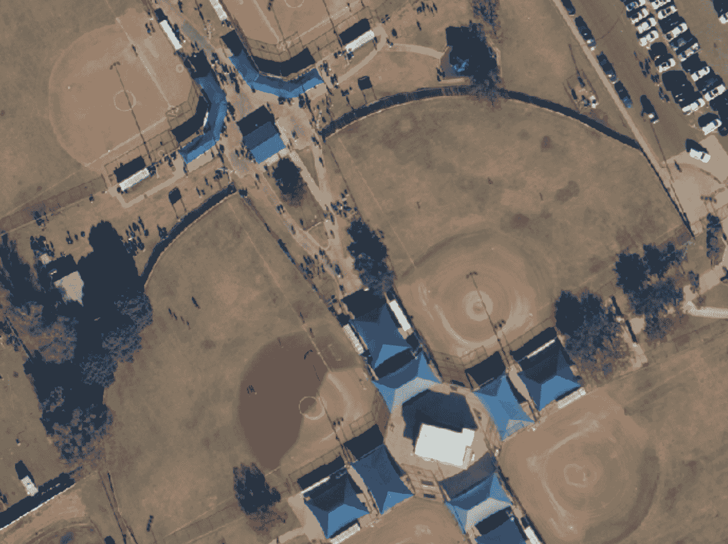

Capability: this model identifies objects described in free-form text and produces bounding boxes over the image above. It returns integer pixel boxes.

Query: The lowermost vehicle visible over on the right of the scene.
[689,147,713,162]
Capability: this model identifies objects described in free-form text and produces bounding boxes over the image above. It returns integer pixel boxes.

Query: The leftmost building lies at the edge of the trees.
[54,271,86,310]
